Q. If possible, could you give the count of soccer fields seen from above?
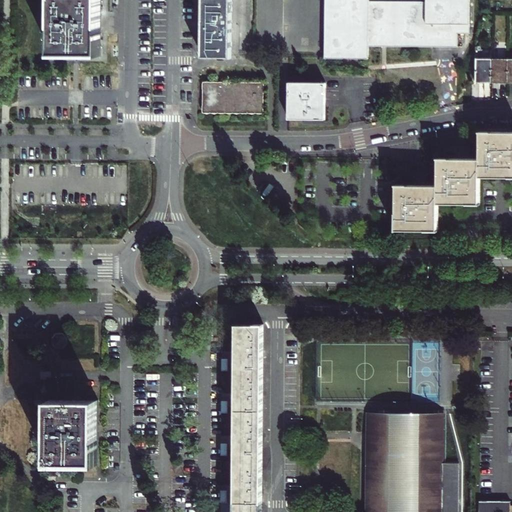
1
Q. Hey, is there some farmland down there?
No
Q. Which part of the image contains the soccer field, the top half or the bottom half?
bottom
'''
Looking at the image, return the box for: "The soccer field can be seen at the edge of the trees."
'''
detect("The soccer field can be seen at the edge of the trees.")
[316,340,411,402]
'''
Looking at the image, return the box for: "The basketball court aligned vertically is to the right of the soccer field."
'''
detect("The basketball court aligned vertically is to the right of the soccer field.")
[412,341,440,404]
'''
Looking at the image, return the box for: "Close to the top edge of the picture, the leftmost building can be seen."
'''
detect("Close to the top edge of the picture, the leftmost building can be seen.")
[41,0,100,60]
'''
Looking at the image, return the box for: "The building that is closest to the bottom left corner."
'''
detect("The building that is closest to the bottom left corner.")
[37,401,98,472]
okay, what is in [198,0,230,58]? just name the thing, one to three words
building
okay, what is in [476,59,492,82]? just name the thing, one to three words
house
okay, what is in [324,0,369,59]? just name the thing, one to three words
building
